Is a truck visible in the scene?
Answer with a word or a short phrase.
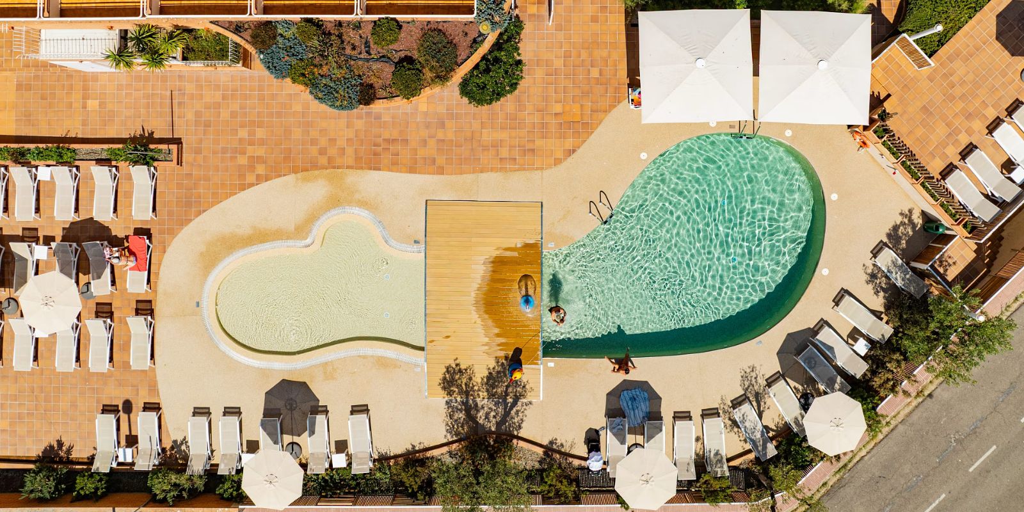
No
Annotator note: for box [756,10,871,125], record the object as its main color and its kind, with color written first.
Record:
white umbrella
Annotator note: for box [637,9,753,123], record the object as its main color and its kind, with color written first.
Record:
white umbrella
